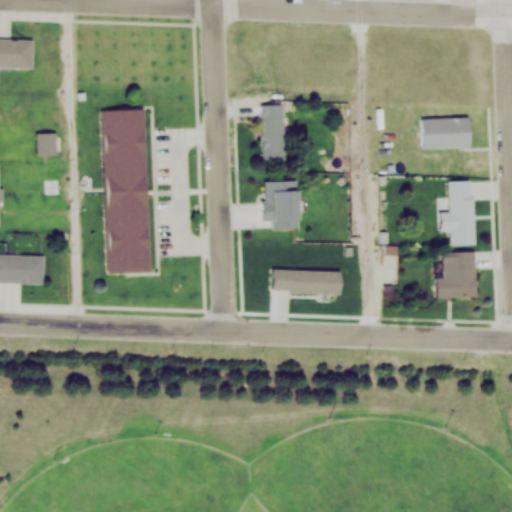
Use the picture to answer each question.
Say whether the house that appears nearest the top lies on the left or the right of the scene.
left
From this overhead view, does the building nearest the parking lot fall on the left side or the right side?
left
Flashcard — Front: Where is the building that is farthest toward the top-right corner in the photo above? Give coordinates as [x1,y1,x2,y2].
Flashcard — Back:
[420,118,472,150]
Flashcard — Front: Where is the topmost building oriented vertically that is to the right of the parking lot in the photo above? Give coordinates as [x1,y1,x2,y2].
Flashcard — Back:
[260,105,286,159]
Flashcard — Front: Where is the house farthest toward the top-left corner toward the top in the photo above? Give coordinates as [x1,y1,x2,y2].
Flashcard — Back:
[0,39,34,69]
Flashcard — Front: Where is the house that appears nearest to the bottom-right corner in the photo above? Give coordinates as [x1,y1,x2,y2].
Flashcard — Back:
[432,251,478,300]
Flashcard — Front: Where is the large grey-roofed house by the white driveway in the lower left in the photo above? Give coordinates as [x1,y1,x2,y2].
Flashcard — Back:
[0,256,45,286]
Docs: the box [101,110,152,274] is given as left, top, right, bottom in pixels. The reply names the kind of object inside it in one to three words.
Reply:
building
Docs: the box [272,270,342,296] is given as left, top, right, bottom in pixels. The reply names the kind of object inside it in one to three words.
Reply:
house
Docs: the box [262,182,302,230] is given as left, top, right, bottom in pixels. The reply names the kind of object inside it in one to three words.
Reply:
house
